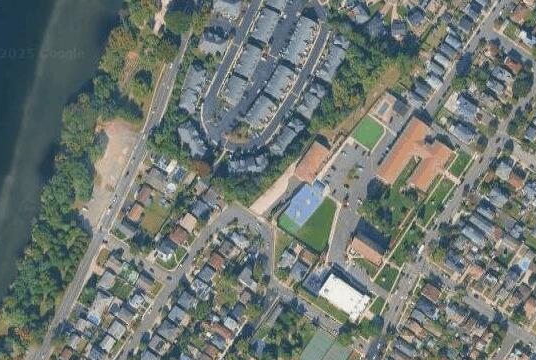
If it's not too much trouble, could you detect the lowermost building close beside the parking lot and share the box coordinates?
[318,273,370,323]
